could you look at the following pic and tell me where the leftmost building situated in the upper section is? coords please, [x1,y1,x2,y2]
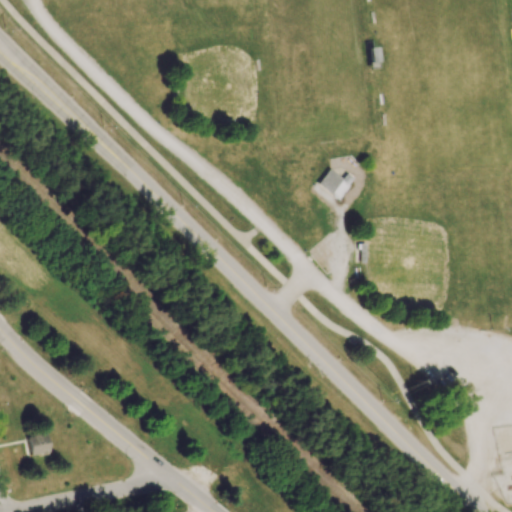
[320,169,351,202]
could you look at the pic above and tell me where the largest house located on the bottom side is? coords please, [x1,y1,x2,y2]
[22,438,50,459]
